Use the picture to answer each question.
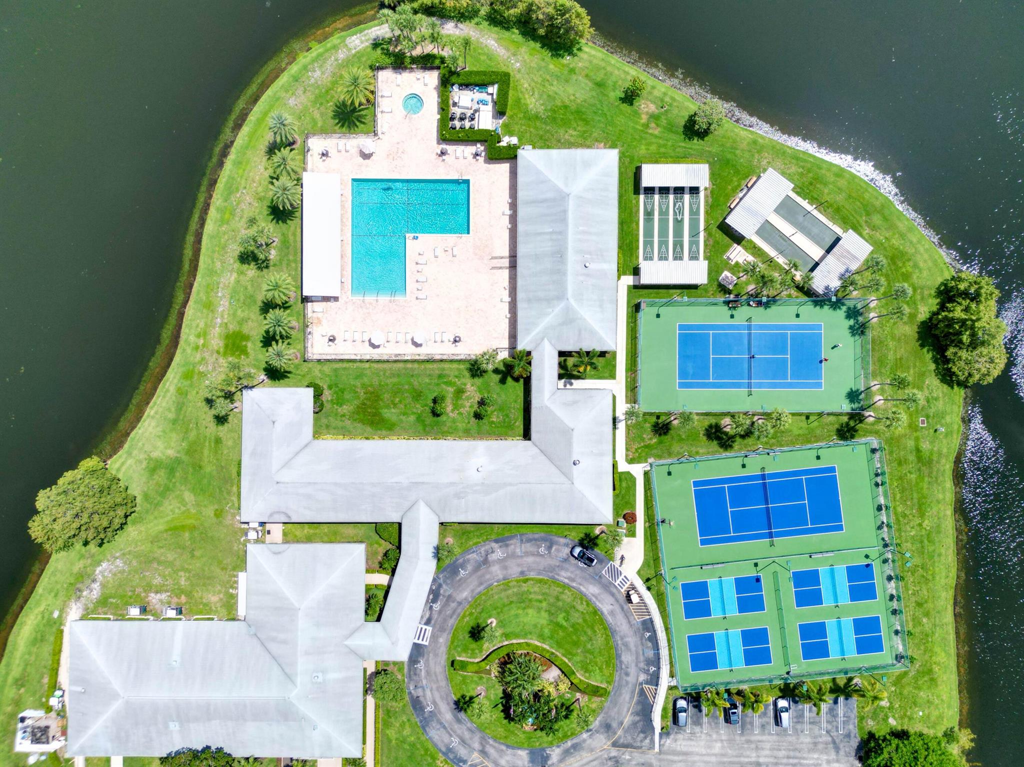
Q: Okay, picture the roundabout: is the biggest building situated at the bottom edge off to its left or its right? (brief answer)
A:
left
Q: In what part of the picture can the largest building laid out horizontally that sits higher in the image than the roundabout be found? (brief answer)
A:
center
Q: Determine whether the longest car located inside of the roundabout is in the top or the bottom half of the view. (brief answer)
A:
bottom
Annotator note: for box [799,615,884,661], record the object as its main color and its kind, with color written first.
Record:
blue sports court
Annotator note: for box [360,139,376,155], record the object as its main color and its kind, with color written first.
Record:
white umbrella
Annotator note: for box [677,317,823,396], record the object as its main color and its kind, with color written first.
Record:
blue tennis court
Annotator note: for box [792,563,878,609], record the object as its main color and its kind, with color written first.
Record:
blue sports court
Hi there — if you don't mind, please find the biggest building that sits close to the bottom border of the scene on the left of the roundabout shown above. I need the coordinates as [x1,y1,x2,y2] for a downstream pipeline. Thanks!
[66,544,366,758]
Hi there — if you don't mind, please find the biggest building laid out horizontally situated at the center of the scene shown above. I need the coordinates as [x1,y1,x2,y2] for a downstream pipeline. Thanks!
[241,339,613,524]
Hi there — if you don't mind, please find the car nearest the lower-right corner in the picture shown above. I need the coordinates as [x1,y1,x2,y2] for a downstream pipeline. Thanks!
[775,697,790,727]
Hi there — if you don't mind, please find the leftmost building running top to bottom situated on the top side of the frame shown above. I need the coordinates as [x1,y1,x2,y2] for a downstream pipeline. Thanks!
[299,171,343,298]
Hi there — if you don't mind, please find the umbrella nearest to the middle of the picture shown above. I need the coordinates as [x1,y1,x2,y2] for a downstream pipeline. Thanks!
[413,330,429,346]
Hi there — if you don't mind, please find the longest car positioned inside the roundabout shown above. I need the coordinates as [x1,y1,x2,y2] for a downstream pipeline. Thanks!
[569,546,599,567]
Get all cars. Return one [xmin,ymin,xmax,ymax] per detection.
[674,697,688,726]
[726,696,738,726]
[775,697,790,727]
[569,546,599,567]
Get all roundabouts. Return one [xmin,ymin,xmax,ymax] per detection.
[405,532,660,767]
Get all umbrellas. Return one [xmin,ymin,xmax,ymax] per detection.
[413,330,429,346]
[360,139,376,155]
[370,330,386,346]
